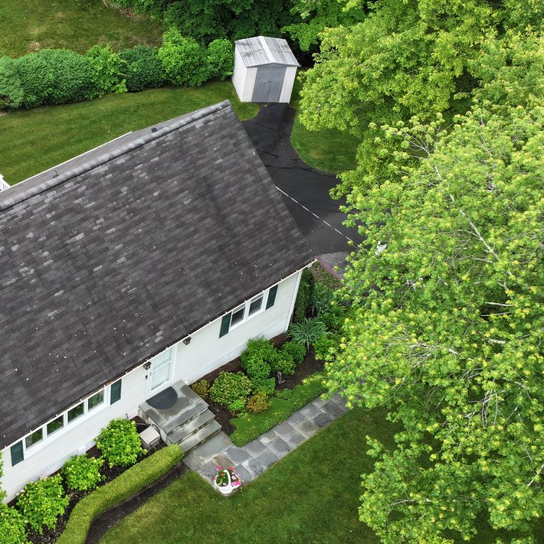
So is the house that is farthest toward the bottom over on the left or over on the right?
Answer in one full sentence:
The house that is farthest toward the bottom sits on the left side.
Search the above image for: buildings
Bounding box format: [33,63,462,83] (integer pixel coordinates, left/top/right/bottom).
[237,32,300,103]
[0,97,318,503]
